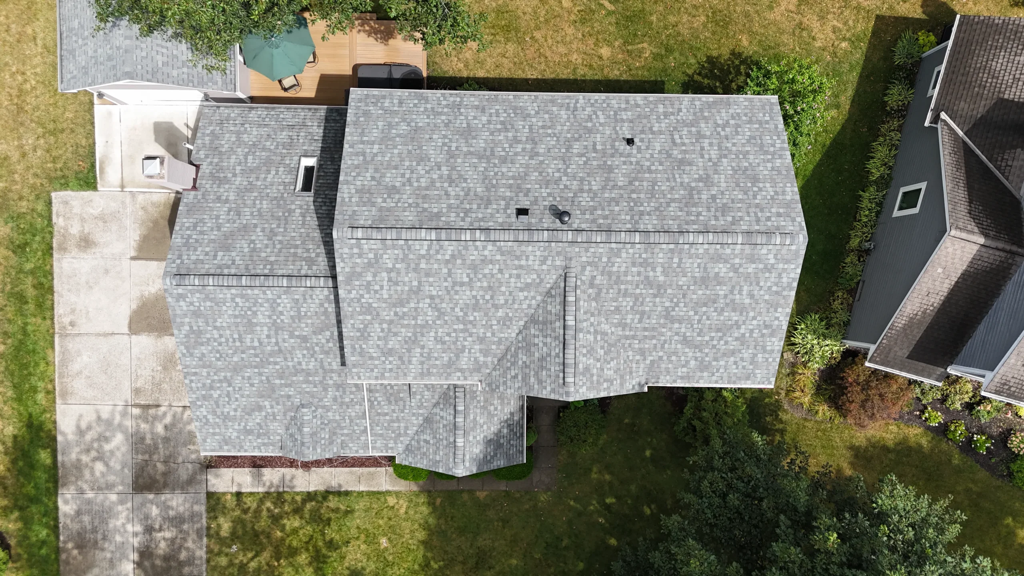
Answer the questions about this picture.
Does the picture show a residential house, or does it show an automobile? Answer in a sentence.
This aerial view contains a residential house.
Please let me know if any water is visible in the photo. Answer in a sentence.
No, no water is visible.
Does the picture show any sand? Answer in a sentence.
No, no sand is visible.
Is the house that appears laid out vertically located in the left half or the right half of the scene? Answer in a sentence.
The house that appears laid out vertically sits on the right side.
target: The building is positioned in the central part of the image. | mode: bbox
[135,89,807,476]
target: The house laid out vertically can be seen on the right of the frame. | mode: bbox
[841,15,1024,407]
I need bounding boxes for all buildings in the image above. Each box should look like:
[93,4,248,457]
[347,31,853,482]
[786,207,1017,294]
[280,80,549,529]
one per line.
[135,89,807,476]
[841,15,1024,407]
